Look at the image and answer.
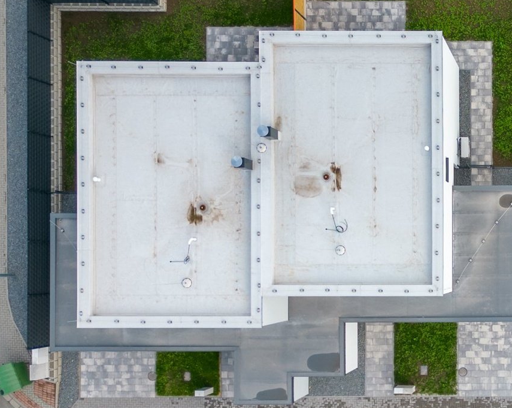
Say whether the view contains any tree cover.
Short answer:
No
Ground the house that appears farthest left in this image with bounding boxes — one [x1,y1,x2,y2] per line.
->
[49,61,309,405]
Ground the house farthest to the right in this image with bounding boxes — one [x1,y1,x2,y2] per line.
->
[252,31,512,377]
